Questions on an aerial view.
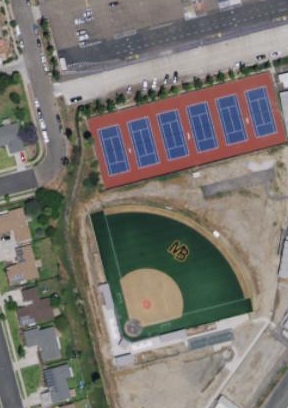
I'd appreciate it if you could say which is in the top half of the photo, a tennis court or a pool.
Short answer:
tennis court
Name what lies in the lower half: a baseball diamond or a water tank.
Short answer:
baseball diamond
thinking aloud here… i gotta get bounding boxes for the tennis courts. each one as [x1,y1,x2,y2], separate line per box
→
[98,125,130,176]
[216,94,248,145]
[246,87,277,138]
[158,110,188,160]
[128,118,160,168]
[187,102,218,152]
